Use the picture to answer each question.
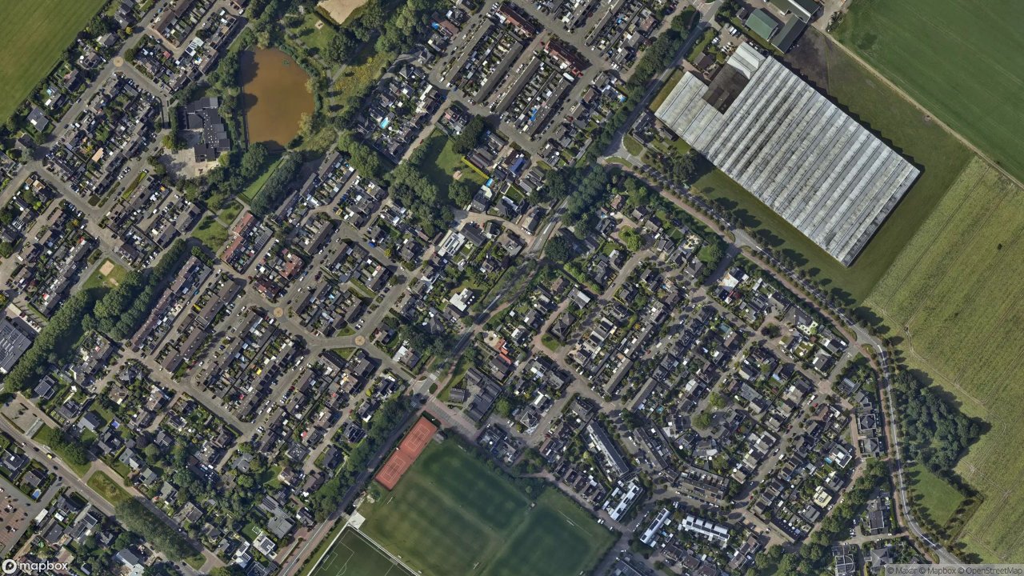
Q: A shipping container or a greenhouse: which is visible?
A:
greenhouse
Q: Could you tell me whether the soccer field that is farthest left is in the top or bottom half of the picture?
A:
bottom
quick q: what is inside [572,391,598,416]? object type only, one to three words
house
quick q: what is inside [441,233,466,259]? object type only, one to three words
building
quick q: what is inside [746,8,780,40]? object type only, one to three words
barn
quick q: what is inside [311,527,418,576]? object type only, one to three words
soccer field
